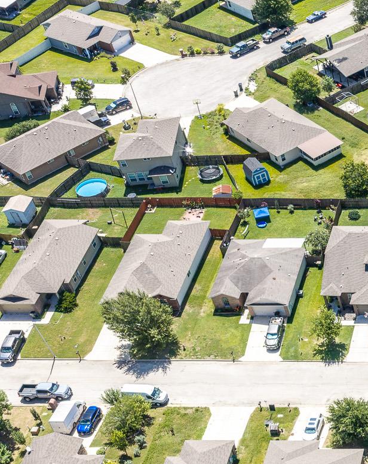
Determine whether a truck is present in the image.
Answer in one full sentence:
Yes, there is a truck in the image.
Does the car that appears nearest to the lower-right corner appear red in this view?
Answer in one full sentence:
No, the car that appears nearest to the lower-right corner is actually white.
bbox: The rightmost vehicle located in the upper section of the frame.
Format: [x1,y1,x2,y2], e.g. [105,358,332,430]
[305,10,327,23]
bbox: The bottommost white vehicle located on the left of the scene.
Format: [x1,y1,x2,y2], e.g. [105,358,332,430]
[47,395,90,433]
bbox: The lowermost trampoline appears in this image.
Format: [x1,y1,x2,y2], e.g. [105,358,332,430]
[197,163,220,183]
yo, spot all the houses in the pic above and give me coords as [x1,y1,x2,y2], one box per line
[0,220,100,316]
[227,99,343,169]
[114,109,195,188]
[314,33,368,86]
[219,0,268,22]
[0,54,60,106]
[14,432,100,464]
[0,0,35,19]
[96,221,210,326]
[321,226,368,316]
[29,10,134,59]
[264,441,364,464]
[0,111,111,185]
[210,238,307,317]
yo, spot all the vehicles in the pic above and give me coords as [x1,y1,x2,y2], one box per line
[305,10,327,23]
[0,328,23,360]
[47,395,90,433]
[20,383,68,401]
[93,110,110,124]
[228,39,260,56]
[118,383,168,405]
[262,25,292,41]
[104,96,131,112]
[65,75,98,87]
[281,33,308,51]
[264,317,283,348]
[303,410,325,440]
[78,404,99,434]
